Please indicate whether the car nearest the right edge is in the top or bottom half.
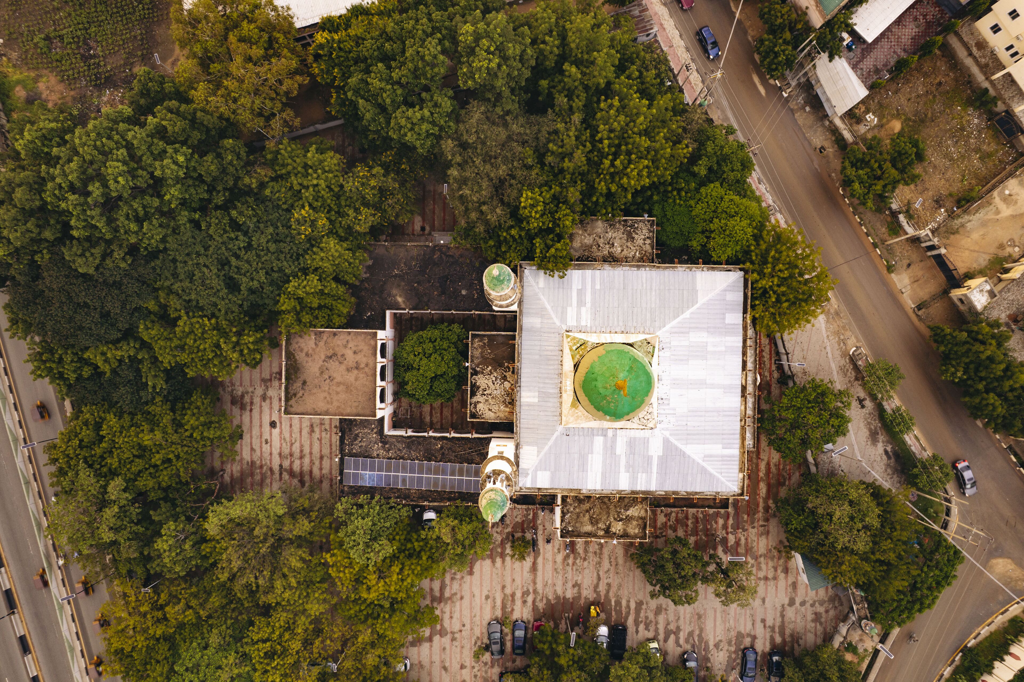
bottom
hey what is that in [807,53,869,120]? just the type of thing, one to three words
shed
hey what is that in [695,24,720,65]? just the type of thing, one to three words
car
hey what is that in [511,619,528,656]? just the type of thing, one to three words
car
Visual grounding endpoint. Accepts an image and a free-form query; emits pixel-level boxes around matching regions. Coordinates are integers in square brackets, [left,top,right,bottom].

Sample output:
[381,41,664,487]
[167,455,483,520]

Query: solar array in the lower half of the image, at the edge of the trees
[342,454,483,494]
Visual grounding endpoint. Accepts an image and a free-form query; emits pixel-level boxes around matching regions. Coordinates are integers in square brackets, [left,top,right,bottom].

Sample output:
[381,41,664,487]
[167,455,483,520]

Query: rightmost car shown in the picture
[952,457,977,496]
